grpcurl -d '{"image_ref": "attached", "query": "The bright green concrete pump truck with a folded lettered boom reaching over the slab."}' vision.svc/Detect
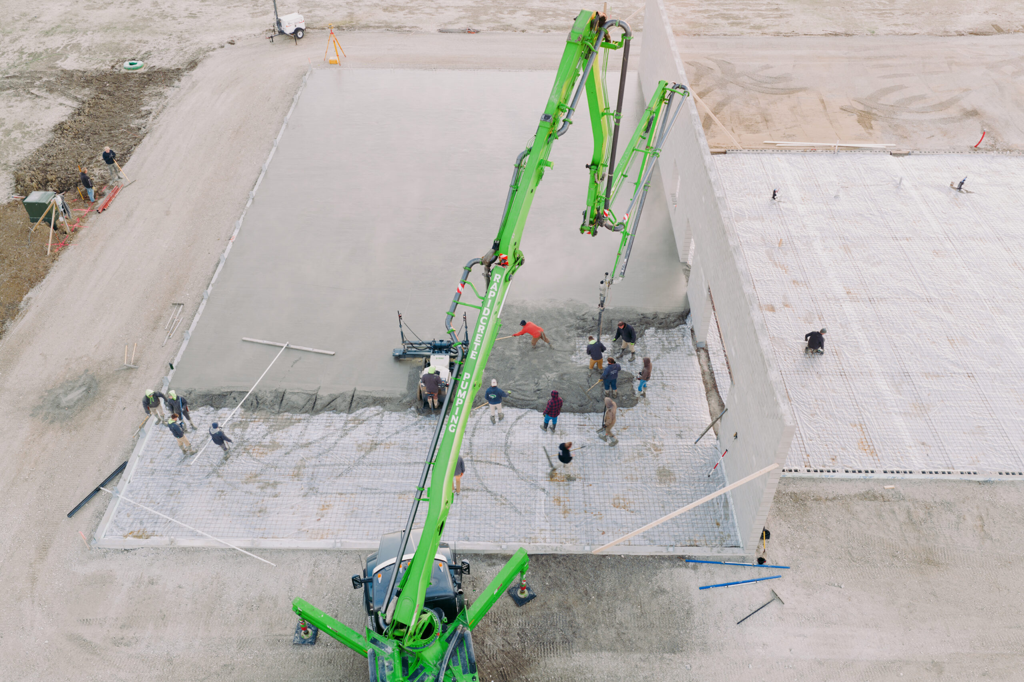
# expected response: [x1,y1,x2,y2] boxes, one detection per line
[290,3,689,682]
